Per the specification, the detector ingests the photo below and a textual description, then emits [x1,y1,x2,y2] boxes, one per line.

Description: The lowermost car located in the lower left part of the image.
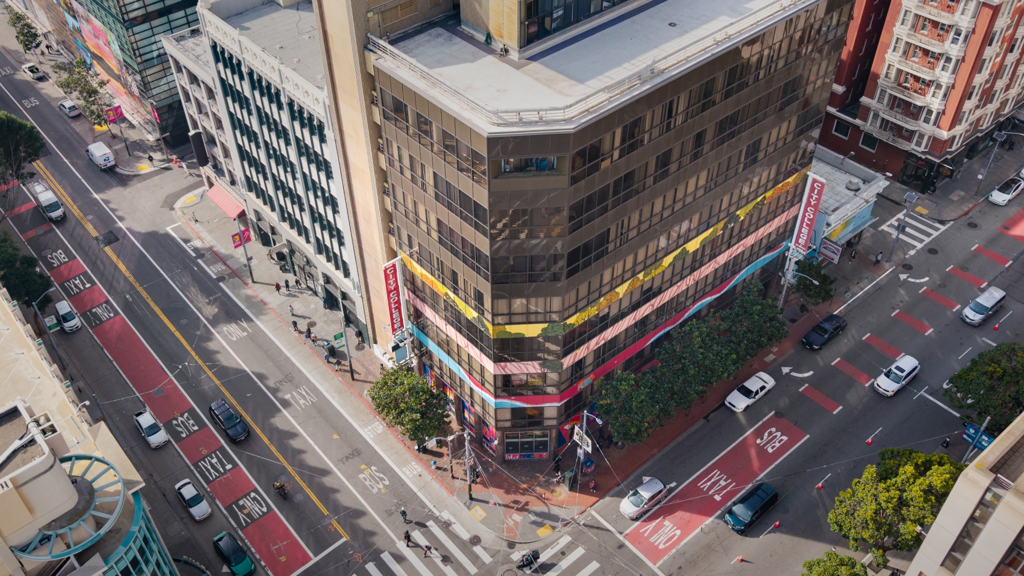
[211,528,261,576]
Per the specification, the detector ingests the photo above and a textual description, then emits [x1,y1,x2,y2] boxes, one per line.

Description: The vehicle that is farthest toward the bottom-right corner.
[875,356,923,397]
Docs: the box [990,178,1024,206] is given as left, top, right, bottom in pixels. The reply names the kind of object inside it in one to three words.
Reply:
car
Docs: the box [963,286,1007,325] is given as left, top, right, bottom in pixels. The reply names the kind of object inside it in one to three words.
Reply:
car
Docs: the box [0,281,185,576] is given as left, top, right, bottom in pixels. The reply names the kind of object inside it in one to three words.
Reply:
building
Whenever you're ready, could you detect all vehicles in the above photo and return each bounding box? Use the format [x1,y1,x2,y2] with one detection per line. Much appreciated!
[726,483,784,536]
[130,407,174,453]
[208,400,253,445]
[26,172,68,220]
[81,137,119,173]
[990,178,1024,206]
[875,356,923,397]
[727,371,780,415]
[59,99,85,120]
[276,482,290,500]
[52,301,85,334]
[523,544,540,576]
[619,475,669,520]
[172,477,218,527]
[804,314,853,354]
[963,286,1007,325]
[211,528,261,576]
